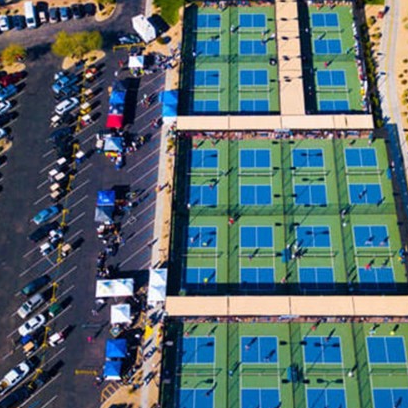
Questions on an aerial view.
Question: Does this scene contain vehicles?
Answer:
Yes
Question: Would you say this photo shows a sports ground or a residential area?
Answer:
sports ground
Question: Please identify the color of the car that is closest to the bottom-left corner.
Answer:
black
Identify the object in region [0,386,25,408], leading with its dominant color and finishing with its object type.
black car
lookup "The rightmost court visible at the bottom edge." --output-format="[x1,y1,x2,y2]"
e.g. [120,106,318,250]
[367,337,408,408]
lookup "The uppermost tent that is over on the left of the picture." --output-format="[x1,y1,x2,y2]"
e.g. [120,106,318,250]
[128,16,160,52]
